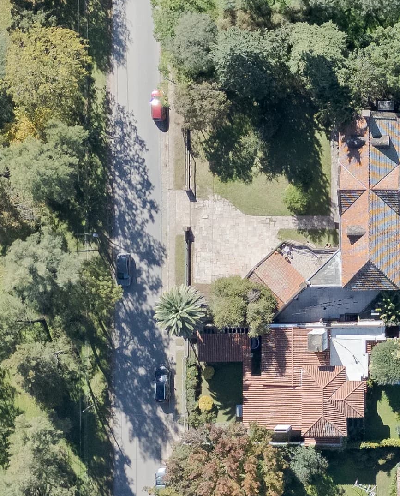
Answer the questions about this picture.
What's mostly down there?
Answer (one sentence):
For the most part, this view shows trees.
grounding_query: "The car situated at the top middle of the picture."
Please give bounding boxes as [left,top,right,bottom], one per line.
[149,90,168,122]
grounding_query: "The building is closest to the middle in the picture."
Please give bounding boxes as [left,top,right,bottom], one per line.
[243,252,307,314]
